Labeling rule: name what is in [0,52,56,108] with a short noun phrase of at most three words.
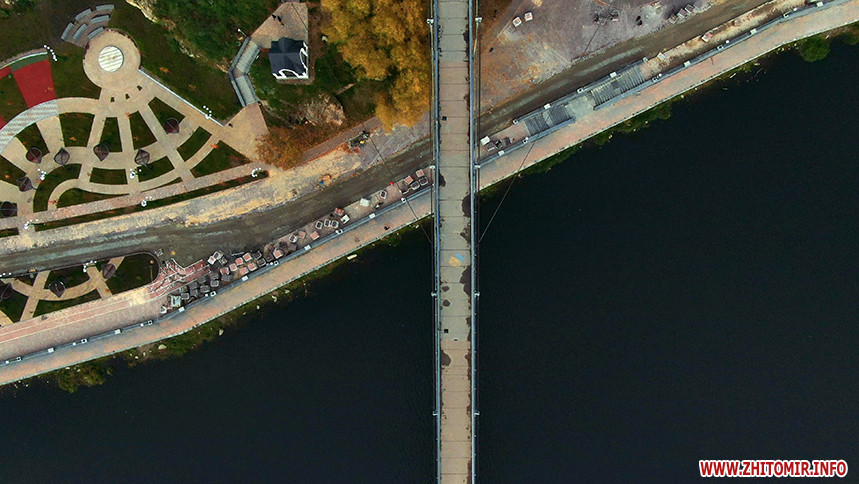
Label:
sports court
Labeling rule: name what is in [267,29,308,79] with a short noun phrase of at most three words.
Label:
building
